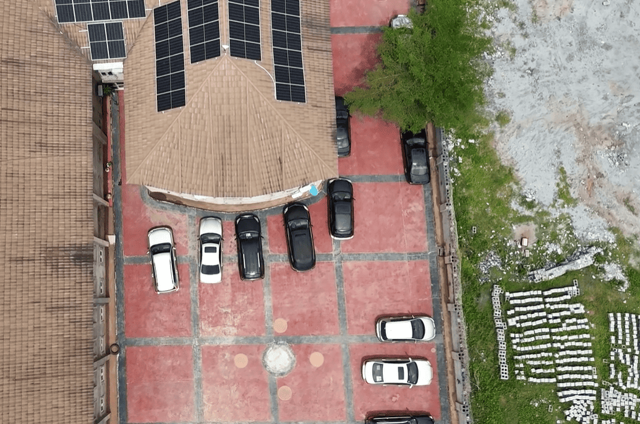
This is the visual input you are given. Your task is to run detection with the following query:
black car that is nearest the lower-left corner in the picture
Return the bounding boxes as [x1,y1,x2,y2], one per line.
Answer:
[234,213,266,280]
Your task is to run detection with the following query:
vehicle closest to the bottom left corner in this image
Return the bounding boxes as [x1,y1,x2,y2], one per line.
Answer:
[148,227,179,294]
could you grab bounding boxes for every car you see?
[336,96,355,157]
[283,203,317,272]
[364,414,435,424]
[375,314,435,346]
[361,357,432,390]
[326,177,357,240]
[148,227,179,294]
[234,213,266,280]
[195,217,226,284]
[398,120,432,184]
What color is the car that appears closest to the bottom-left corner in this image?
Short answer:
white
